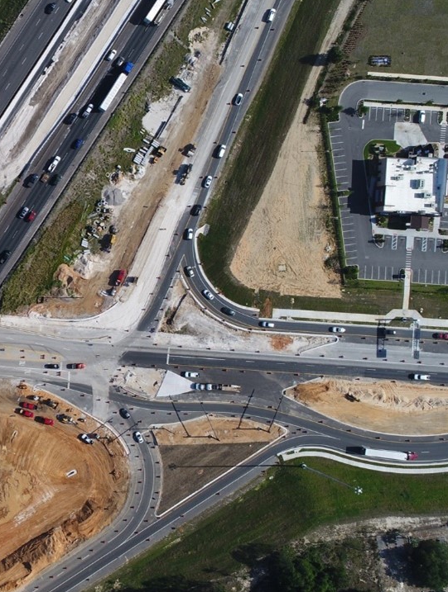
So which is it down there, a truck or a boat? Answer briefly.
truck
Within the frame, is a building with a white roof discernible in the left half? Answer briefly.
No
